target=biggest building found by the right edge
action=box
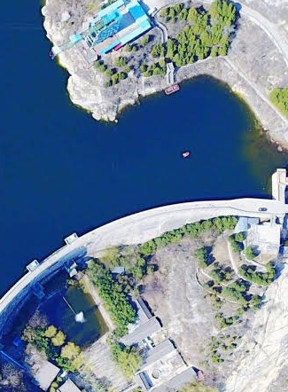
[244,214,281,254]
